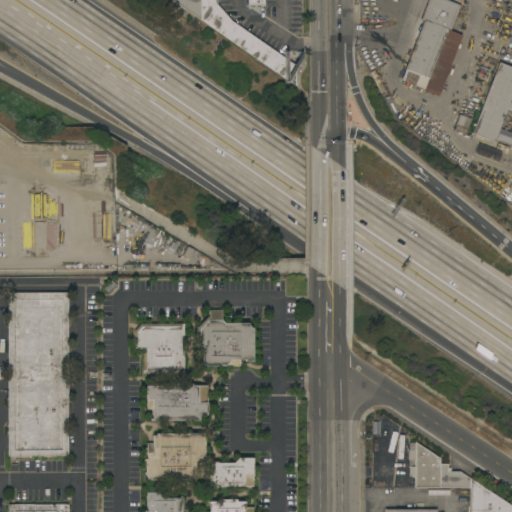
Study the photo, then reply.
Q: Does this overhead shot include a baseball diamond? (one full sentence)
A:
No, I find no baseball diamond anywhere in the image.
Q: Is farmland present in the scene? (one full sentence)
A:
No, there is no farmland in the image.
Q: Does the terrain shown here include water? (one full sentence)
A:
No, water can't be seen anywhere here.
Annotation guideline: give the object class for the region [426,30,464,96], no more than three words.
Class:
shed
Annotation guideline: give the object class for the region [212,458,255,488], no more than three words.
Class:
building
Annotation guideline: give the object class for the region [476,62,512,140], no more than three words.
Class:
building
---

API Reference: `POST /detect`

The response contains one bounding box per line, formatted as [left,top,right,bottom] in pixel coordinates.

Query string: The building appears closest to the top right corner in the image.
[424,0,464,29]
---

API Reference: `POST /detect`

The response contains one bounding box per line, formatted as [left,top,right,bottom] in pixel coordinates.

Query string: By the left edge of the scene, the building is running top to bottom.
[8,292,70,458]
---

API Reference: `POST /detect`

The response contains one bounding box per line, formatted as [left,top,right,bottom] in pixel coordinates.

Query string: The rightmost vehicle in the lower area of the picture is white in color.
[476,340,498,356]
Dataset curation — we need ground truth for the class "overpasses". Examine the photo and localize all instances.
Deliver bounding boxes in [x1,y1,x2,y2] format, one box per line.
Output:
[306,142,354,294]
